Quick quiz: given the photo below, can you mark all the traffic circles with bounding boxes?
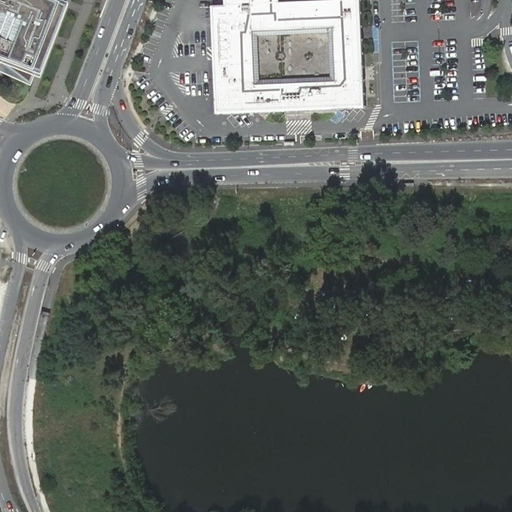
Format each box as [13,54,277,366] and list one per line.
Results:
[0,112,134,256]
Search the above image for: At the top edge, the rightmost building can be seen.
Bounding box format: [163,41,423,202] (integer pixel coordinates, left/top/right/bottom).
[210,0,362,115]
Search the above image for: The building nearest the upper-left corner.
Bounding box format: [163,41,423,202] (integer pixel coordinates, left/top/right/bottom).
[0,0,68,85]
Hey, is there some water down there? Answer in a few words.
Yes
